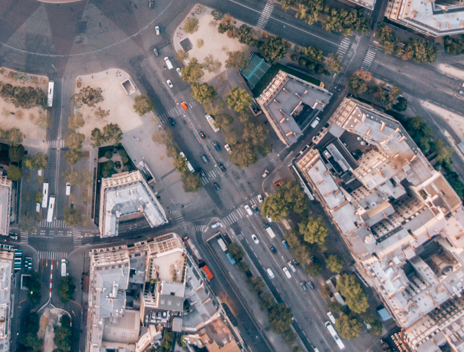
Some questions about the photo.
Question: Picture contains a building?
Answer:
Yes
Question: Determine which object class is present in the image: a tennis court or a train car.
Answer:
tennis court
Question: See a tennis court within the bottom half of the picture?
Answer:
No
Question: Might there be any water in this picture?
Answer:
No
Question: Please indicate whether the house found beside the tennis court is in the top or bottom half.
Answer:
top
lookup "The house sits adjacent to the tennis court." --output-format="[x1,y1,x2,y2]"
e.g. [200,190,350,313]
[255,69,332,146]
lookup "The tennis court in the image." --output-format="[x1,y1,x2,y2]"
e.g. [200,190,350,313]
[240,54,271,89]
